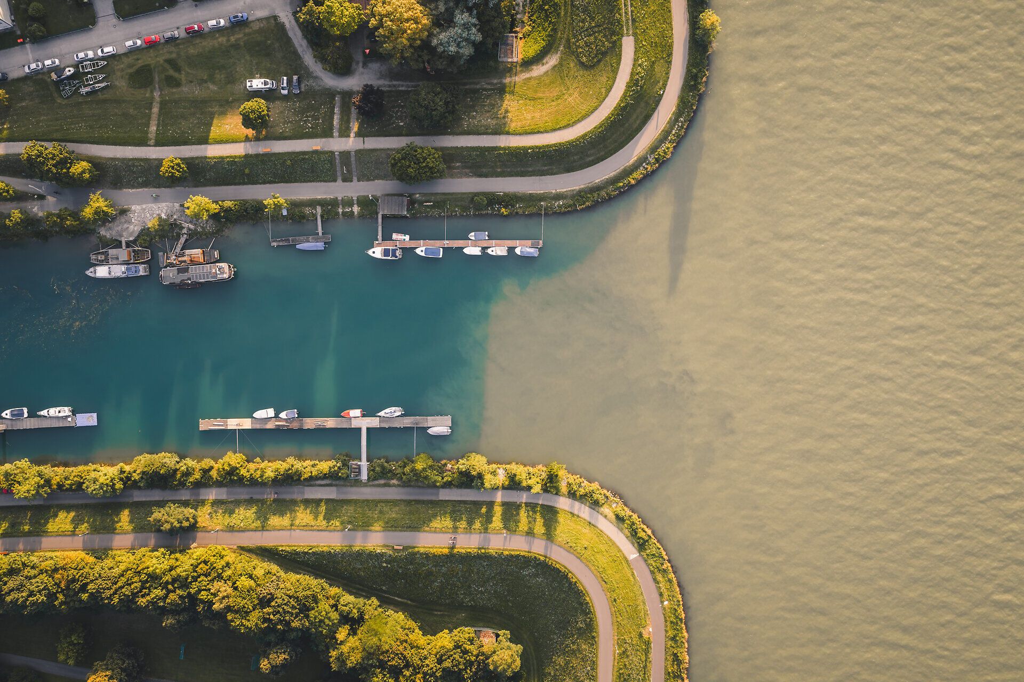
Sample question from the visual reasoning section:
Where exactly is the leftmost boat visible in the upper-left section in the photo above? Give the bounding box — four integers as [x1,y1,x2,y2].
[46,65,73,80]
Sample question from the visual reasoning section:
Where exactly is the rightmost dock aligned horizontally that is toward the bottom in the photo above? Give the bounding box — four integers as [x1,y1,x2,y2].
[199,415,452,431]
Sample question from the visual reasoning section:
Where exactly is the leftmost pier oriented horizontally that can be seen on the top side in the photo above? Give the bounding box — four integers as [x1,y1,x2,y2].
[271,234,331,246]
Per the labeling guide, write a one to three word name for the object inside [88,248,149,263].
boat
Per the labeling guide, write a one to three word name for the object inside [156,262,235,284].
boat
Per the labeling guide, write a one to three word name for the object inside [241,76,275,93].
vehicle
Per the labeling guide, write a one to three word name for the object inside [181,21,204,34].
vehicle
